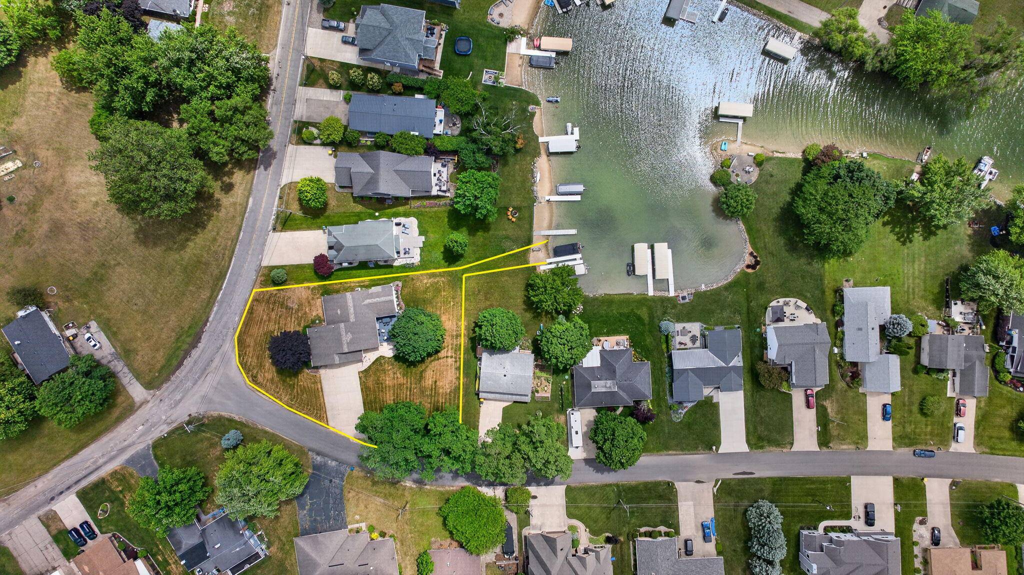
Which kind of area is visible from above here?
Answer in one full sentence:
What you see here is a residential area.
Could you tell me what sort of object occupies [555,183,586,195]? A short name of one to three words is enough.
boat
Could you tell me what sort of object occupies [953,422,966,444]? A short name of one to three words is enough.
vehicle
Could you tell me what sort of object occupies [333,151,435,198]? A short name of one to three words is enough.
house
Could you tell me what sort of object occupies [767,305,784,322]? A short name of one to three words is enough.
gazebo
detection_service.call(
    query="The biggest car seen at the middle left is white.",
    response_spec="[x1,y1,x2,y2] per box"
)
[84,331,101,351]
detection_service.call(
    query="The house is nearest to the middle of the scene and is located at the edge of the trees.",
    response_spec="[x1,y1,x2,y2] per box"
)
[479,338,534,402]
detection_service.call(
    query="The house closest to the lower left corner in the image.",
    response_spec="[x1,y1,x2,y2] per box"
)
[72,536,144,575]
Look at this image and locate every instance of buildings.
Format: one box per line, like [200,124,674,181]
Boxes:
[142,0,195,19]
[172,514,266,575]
[326,219,401,265]
[925,545,1011,575]
[1,308,76,385]
[149,19,176,34]
[428,546,482,575]
[765,322,833,389]
[419,0,458,10]
[333,151,435,198]
[348,94,436,139]
[840,286,901,393]
[635,535,726,575]
[671,329,747,403]
[307,285,397,367]
[915,334,989,398]
[574,347,652,408]
[294,527,400,575]
[479,338,534,402]
[527,527,612,575]
[355,4,439,71]
[791,527,901,575]
[72,536,144,575]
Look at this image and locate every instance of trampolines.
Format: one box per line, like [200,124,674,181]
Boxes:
[455,38,472,55]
